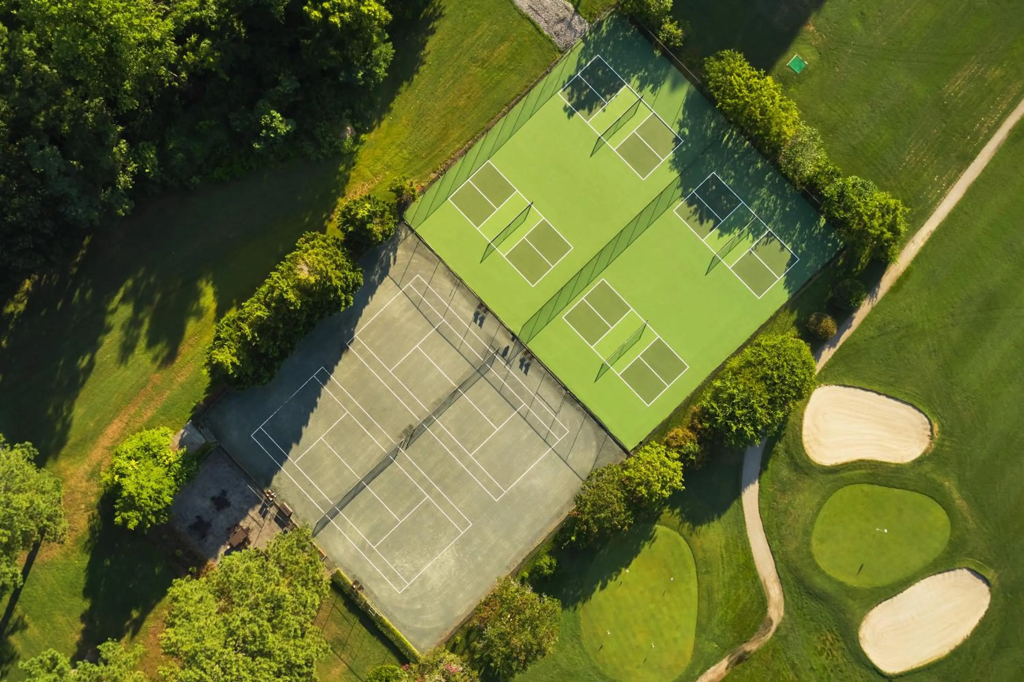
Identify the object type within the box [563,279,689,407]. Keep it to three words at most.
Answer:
sports court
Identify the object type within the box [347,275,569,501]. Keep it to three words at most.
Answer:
tennis court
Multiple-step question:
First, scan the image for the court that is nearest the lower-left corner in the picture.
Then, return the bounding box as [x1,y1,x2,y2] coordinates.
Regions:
[251,367,472,594]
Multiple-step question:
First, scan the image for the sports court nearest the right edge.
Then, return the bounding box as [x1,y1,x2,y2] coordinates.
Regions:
[673,172,800,299]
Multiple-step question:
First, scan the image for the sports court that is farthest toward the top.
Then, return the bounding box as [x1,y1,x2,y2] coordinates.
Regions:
[558,54,684,180]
